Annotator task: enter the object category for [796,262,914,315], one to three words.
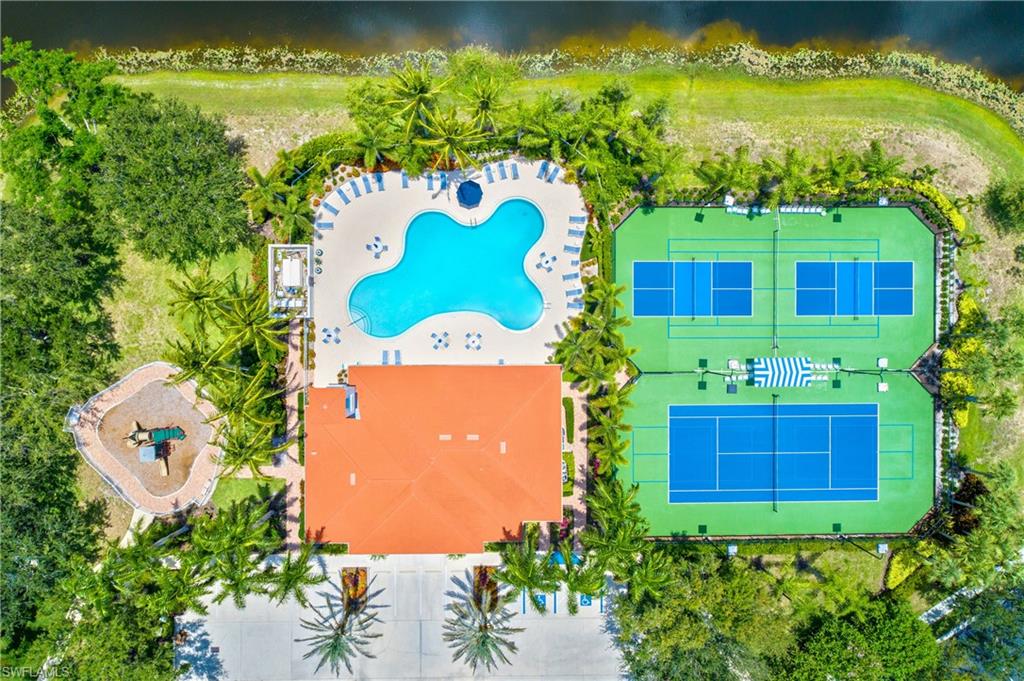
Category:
sports court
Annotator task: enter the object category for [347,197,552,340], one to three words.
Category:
swimming pool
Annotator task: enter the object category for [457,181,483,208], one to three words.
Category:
umbrella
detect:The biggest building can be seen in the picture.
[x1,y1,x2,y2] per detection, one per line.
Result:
[306,365,562,554]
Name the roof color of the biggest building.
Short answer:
orange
